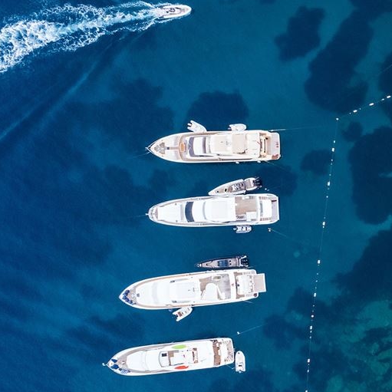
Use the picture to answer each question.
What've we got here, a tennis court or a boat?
boat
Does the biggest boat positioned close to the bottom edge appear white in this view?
Yes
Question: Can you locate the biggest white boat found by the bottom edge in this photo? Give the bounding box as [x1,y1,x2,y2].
[105,337,240,373]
